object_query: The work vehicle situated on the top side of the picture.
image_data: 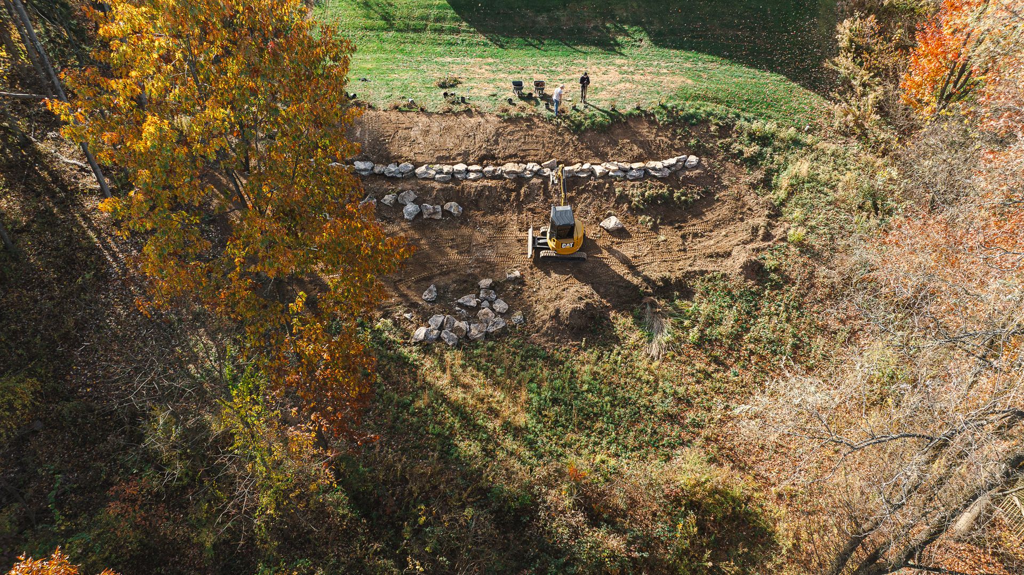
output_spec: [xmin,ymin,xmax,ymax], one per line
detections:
[526,156,588,260]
